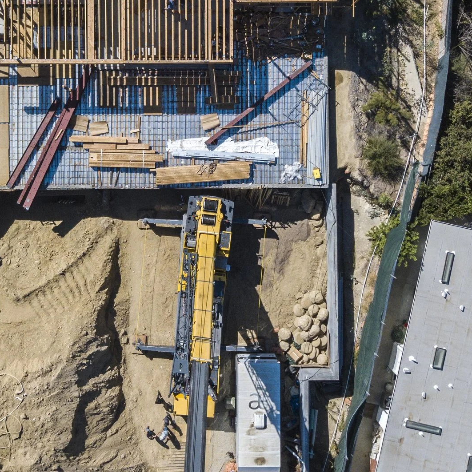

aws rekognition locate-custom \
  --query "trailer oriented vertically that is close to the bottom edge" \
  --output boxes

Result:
[233,343,282,468]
